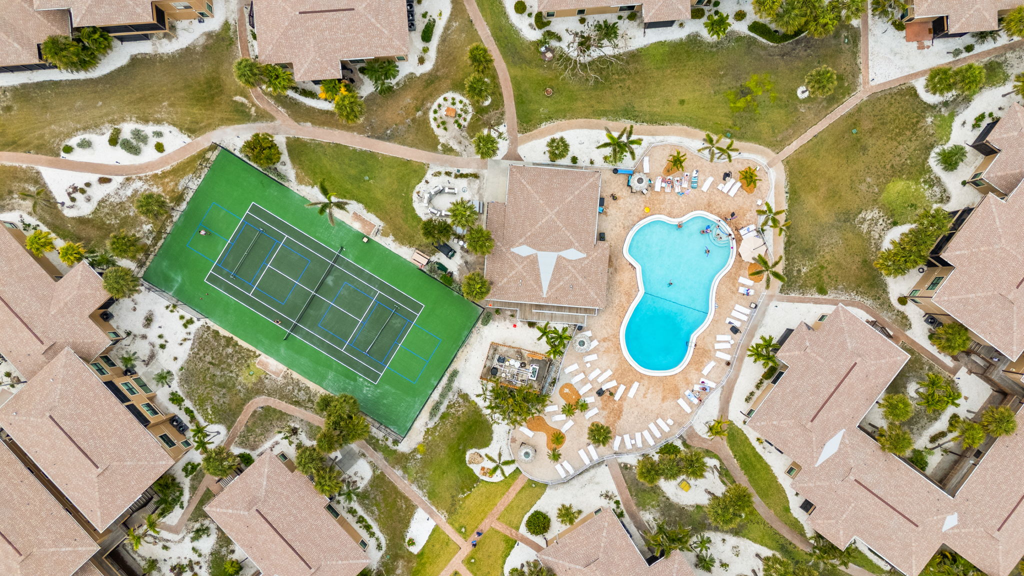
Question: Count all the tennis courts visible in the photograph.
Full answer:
Only 1 tennis court is visible.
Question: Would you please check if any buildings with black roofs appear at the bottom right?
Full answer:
No, looking at the bottom right, there is no building with a black roof.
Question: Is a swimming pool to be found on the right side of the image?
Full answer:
Yes, on the right side of the image there is a swimming pool.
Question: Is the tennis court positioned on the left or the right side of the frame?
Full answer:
It is on the left.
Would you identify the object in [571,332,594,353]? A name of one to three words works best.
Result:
umbrella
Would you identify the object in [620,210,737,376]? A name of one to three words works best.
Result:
swimming pool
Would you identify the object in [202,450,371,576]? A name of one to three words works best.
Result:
house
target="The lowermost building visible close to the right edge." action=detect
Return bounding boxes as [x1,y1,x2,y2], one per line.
[738,301,1024,576]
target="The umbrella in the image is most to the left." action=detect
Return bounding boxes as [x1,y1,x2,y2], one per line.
[515,443,538,466]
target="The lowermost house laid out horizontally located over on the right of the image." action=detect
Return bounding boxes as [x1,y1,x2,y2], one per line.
[538,505,696,576]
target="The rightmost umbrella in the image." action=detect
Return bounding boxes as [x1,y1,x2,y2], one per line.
[739,235,769,262]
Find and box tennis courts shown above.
[143,150,483,441]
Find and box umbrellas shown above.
[515,443,538,466]
[739,235,769,262]
[628,171,652,195]
[571,332,594,353]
